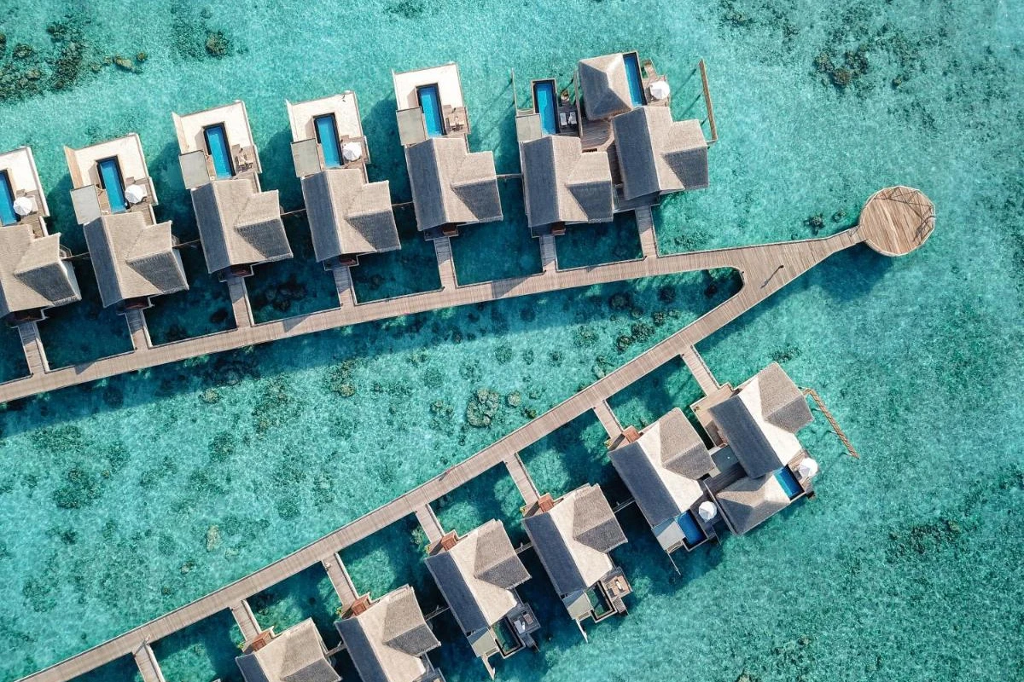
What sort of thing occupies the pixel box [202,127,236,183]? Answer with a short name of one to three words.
swimming pool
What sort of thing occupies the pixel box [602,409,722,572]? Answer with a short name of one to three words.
house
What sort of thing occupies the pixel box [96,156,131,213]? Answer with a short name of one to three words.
swimming pool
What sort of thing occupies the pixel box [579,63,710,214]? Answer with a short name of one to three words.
house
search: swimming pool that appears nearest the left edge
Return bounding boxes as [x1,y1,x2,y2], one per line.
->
[0,170,22,226]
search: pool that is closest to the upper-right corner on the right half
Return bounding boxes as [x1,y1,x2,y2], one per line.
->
[627,51,648,107]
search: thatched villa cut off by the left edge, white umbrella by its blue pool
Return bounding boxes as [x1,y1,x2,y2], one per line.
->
[0,146,91,329]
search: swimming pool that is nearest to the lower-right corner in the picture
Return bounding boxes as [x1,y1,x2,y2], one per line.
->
[775,465,806,503]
